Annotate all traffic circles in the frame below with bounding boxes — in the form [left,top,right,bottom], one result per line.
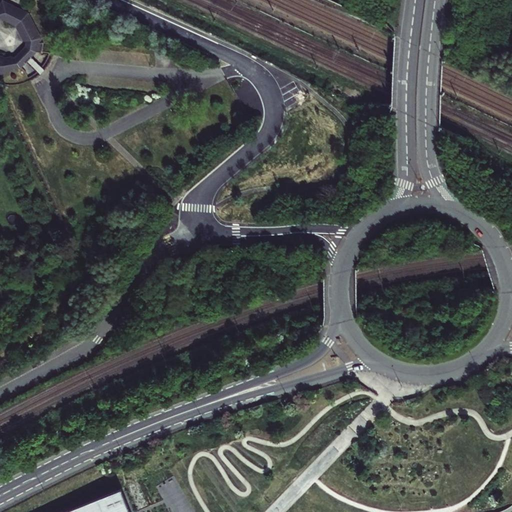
[328,194,512,384]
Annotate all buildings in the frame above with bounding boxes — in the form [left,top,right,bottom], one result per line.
[74,492,128,512]
[157,476,196,512]
[0,0,44,74]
